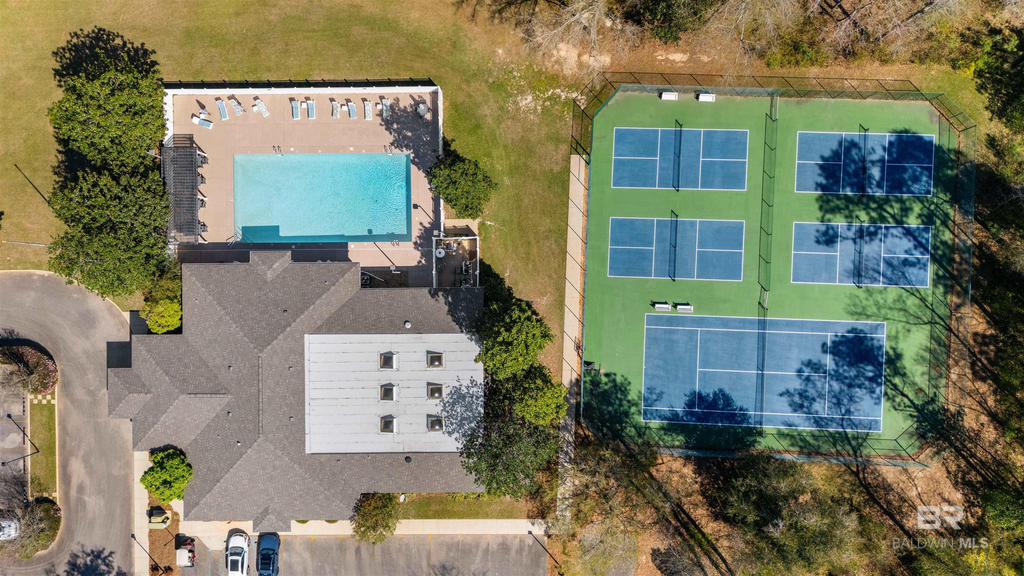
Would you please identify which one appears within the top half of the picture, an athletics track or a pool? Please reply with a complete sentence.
Visible within the top half of the picture is a pool.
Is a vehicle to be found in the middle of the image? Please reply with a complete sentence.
No, there is no vehicle in the middle of the image.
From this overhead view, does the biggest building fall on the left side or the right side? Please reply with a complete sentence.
The biggest building sits on the left side.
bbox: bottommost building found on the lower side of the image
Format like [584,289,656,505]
[107,250,485,532]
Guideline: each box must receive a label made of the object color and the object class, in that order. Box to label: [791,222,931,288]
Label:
blue sports court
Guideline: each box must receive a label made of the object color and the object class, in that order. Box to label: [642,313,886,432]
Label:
blue tennis court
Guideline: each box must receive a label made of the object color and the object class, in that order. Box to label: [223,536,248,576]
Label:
white car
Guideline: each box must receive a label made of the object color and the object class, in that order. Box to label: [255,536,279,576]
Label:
blue car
